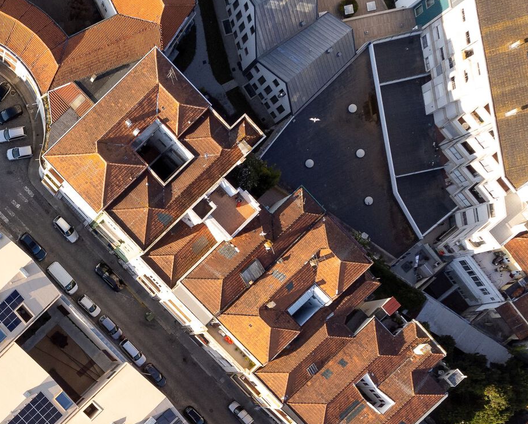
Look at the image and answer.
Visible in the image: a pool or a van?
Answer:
van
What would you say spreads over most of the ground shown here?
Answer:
buildings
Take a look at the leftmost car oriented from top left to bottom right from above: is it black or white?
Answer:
black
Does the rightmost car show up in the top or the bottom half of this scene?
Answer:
bottom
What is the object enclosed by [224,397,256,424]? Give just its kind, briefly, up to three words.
car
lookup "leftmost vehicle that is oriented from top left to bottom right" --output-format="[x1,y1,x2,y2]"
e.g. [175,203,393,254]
[18,230,47,264]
